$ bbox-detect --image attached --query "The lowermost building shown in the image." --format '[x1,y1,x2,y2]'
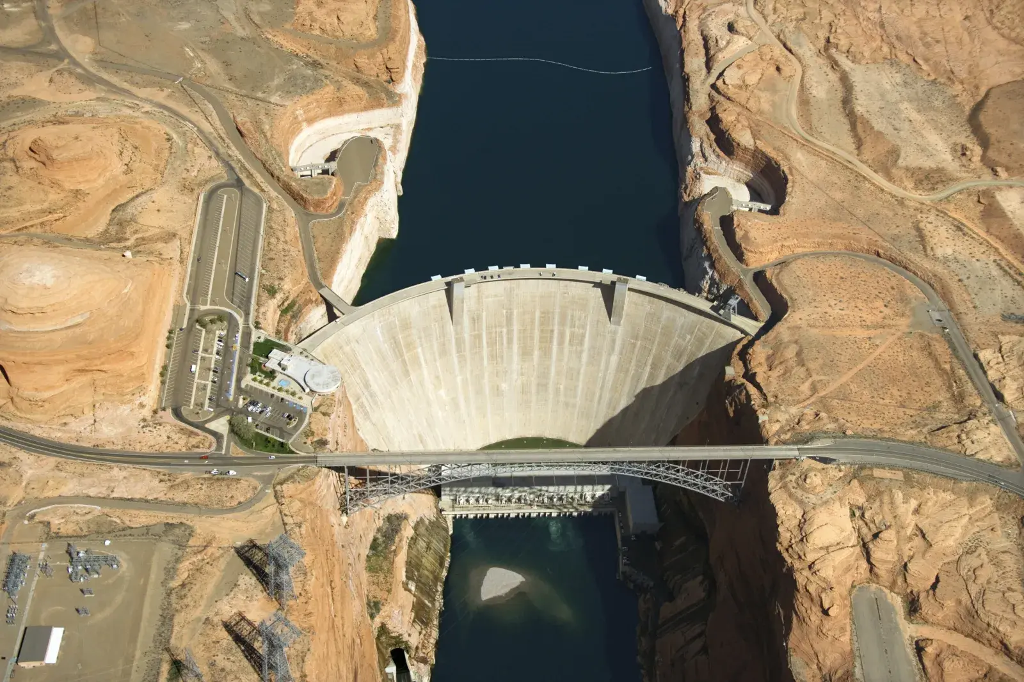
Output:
[17,626,65,669]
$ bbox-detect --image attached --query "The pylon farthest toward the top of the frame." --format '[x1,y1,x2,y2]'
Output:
[259,531,303,616]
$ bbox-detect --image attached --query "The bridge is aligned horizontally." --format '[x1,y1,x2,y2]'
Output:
[313,445,802,517]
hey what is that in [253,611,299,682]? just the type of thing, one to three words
pylon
